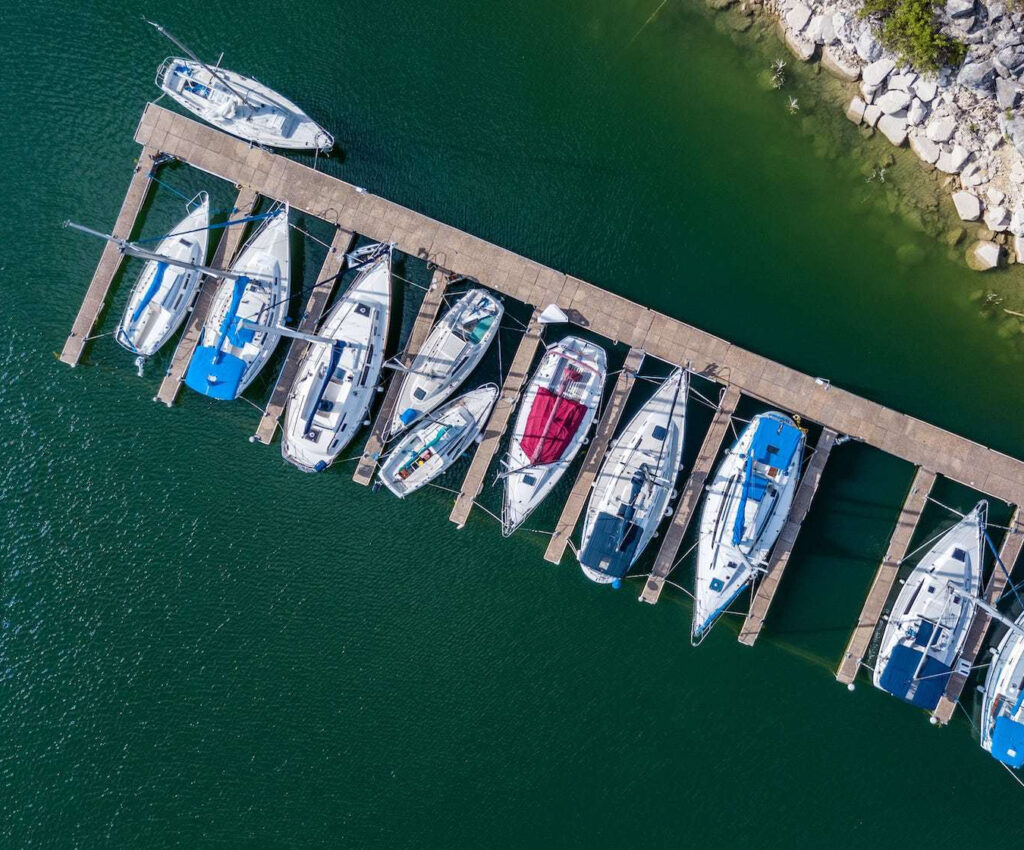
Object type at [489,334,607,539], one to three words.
boat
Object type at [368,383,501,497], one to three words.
boat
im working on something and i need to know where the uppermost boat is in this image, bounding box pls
[131,8,330,149]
